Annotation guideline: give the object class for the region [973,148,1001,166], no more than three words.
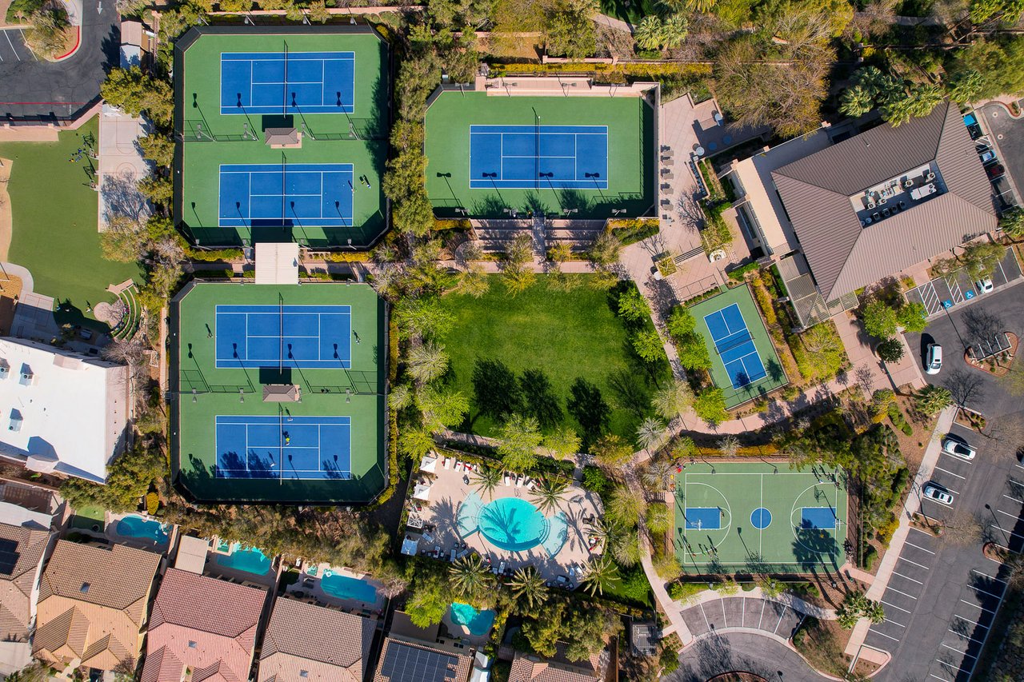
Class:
car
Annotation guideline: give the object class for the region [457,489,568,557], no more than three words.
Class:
swimming pool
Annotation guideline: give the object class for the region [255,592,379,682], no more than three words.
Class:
house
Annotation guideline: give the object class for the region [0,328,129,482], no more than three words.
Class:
building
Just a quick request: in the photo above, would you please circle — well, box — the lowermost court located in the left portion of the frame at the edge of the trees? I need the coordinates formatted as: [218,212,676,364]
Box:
[180,392,387,501]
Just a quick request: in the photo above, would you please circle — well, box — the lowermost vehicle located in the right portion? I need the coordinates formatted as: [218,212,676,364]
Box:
[926,486,954,505]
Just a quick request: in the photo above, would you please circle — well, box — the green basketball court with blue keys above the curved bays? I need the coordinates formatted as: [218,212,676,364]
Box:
[674,462,848,575]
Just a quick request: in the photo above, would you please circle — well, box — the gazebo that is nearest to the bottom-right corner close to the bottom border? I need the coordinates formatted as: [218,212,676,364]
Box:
[630,620,657,655]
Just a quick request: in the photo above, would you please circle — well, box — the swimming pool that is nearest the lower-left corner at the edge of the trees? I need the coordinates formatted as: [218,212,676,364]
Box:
[114,513,171,547]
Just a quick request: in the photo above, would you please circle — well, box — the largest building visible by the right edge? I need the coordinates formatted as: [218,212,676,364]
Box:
[712,97,999,303]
